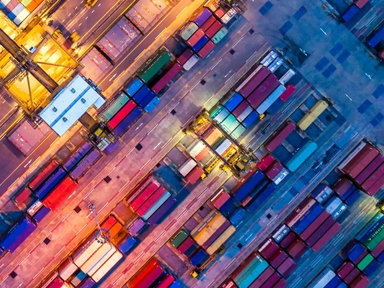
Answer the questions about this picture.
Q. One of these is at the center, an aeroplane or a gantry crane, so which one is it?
gantry crane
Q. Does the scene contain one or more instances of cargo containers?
Yes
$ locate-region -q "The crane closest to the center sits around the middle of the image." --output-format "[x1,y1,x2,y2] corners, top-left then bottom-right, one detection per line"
[183,113,261,183]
